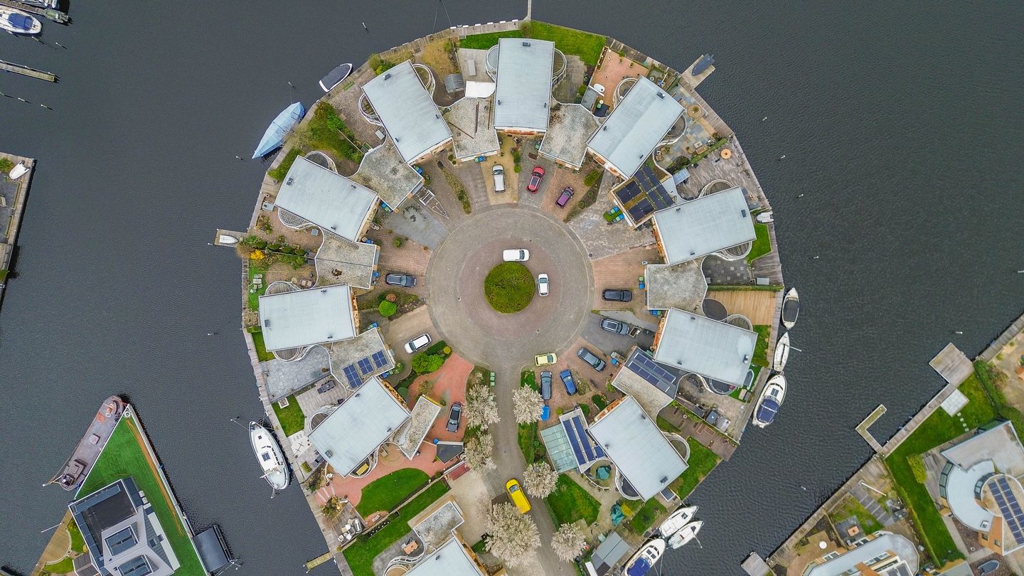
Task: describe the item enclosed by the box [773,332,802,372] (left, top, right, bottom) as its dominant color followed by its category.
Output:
white boat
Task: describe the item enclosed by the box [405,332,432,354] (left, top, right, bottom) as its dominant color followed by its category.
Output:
white car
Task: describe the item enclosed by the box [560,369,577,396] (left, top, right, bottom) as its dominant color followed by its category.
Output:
blue car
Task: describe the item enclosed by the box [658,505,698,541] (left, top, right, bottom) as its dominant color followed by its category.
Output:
white boat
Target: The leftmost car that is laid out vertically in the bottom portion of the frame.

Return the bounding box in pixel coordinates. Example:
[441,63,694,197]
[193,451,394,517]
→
[448,402,462,431]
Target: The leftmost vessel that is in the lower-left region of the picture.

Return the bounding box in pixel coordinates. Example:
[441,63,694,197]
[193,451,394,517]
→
[56,393,124,517]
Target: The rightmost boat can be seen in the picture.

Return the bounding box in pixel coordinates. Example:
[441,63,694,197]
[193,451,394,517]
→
[975,560,1000,575]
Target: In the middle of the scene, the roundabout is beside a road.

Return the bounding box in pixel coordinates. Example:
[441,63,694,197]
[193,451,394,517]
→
[425,202,595,371]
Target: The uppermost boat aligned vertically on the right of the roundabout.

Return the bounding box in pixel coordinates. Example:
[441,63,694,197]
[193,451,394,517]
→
[782,288,799,329]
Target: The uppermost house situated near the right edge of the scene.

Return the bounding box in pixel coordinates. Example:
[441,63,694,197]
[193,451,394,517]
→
[936,416,1024,552]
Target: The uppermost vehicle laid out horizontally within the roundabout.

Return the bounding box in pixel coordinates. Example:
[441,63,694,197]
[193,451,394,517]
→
[503,248,530,261]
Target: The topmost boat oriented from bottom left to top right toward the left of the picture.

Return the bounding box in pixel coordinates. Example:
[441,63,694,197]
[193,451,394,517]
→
[321,64,353,92]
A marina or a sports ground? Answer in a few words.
marina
